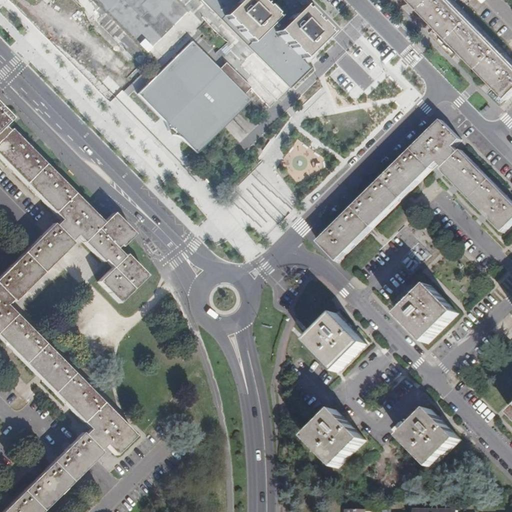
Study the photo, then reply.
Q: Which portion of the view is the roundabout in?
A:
center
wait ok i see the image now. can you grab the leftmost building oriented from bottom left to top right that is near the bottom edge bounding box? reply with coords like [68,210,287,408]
[7,434,112,512]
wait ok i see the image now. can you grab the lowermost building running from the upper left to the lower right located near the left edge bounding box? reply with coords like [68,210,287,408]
[0,278,148,458]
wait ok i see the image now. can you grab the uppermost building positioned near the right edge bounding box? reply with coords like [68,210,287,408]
[406,0,512,100]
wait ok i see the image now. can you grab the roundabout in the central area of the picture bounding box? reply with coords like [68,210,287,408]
[192,266,258,332]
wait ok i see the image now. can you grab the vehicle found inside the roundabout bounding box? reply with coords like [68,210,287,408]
[202,303,218,318]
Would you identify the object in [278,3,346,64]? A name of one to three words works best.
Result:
building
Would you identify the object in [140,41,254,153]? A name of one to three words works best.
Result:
building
